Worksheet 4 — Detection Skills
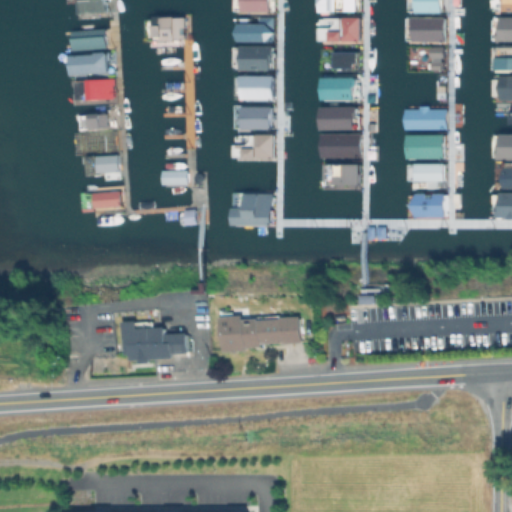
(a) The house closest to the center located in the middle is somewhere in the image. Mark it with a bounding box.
[228,192,276,228]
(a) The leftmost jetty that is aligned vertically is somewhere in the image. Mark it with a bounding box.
[112,0,132,212]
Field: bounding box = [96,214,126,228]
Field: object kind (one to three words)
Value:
boat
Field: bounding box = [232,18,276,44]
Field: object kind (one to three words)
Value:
house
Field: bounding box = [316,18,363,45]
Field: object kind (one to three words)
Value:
house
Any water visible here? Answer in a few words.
Yes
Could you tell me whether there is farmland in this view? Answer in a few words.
No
